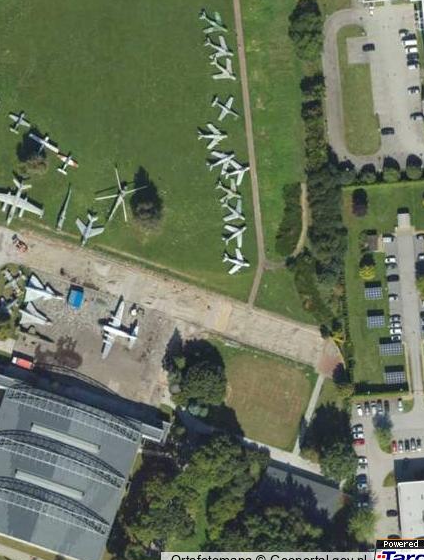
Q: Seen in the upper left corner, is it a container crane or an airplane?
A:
airplane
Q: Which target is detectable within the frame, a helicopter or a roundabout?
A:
helicopter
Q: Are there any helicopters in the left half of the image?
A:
Yes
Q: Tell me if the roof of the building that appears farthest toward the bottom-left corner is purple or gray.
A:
gray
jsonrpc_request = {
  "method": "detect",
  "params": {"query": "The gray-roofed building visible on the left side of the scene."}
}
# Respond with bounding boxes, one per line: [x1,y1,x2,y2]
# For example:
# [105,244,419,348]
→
[0,377,171,560]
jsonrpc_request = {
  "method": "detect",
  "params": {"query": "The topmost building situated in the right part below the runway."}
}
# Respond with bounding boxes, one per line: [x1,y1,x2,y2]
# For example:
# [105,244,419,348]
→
[254,464,344,518]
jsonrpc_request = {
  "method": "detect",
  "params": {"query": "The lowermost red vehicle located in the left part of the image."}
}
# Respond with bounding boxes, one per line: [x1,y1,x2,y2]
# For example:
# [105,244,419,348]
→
[13,357,35,371]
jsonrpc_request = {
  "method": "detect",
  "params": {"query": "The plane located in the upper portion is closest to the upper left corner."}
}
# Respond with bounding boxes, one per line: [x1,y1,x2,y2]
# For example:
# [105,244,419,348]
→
[9,111,30,133]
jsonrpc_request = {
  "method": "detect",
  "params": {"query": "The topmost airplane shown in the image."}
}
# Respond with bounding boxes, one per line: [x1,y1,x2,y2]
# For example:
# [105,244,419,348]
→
[201,10,228,33]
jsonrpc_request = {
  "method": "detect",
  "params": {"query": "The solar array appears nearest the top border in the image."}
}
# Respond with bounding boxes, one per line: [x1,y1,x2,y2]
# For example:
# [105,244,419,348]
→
[365,287,382,300]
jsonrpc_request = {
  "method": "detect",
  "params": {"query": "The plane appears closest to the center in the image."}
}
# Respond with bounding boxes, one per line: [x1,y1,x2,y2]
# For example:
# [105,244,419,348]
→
[223,248,250,274]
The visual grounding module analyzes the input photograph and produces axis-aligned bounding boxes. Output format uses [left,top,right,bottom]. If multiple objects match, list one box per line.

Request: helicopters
[95,167,146,221]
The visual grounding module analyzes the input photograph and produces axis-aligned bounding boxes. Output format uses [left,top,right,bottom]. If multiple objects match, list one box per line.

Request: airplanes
[197,123,228,150]
[76,212,104,246]
[220,198,245,221]
[29,133,60,156]
[215,178,241,202]
[103,301,140,361]
[212,96,239,121]
[58,184,73,231]
[9,111,30,133]
[223,248,250,274]
[203,34,234,59]
[209,56,236,80]
[18,304,52,327]
[207,151,235,175]
[18,326,53,340]
[223,226,246,248]
[0,182,45,225]
[223,161,250,186]
[201,10,228,33]
[26,278,66,307]
[1,265,27,291]
[56,154,77,173]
